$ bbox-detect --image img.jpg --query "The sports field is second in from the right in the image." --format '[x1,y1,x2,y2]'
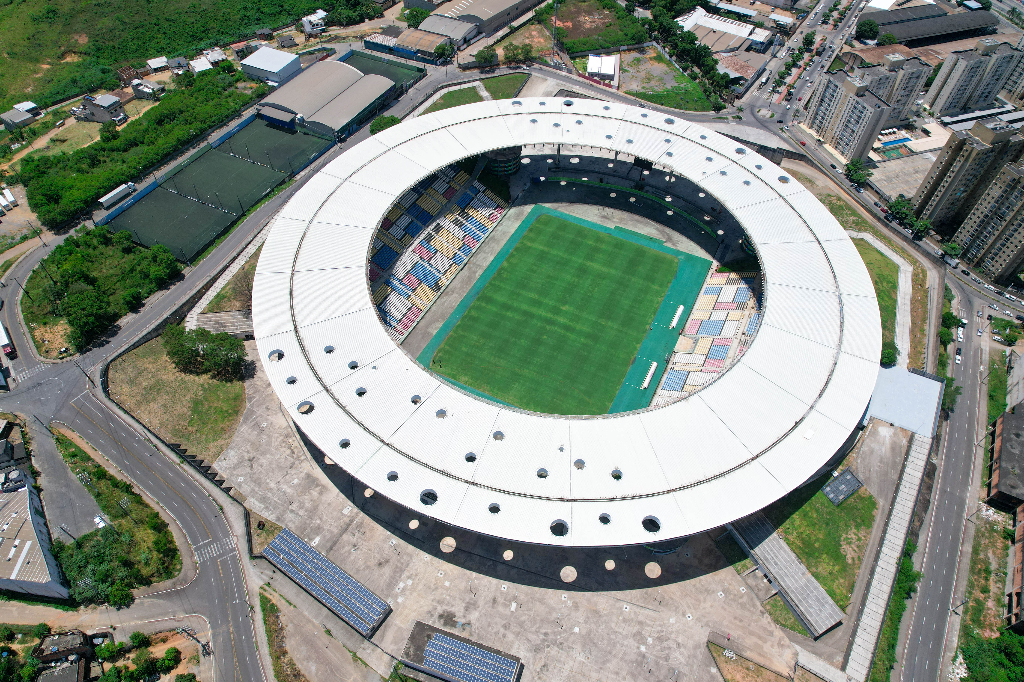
[339,55,419,87]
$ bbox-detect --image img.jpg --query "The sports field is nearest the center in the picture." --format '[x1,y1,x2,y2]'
[430,214,679,415]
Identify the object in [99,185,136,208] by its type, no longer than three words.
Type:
truck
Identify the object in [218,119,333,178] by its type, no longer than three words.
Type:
sports field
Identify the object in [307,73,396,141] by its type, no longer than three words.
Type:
building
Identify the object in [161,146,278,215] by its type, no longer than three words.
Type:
sports field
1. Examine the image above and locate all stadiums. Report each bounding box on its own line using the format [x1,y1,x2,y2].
[251,97,886,561]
